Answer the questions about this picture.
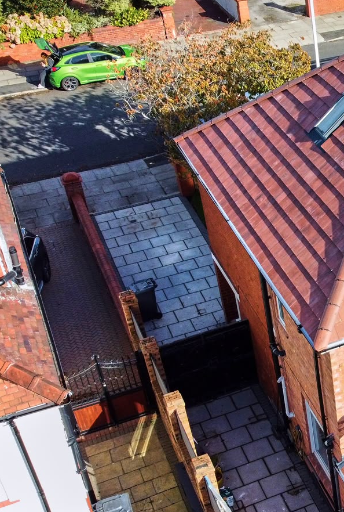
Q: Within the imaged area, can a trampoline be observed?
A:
No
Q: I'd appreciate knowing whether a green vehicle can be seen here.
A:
Yes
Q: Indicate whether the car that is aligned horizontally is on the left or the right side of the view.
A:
left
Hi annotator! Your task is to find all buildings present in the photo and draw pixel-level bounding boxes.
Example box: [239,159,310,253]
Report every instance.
[0,161,114,512]
[170,50,344,512]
